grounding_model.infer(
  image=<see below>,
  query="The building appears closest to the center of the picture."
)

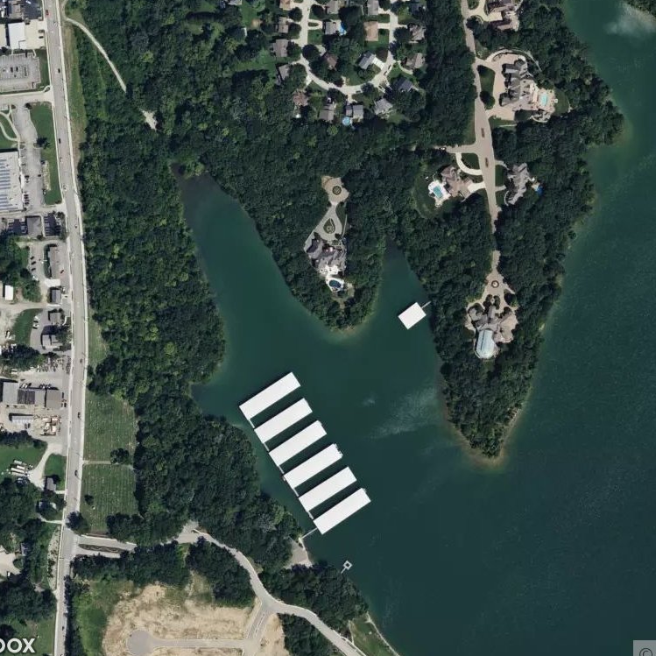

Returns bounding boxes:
[309,241,342,270]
